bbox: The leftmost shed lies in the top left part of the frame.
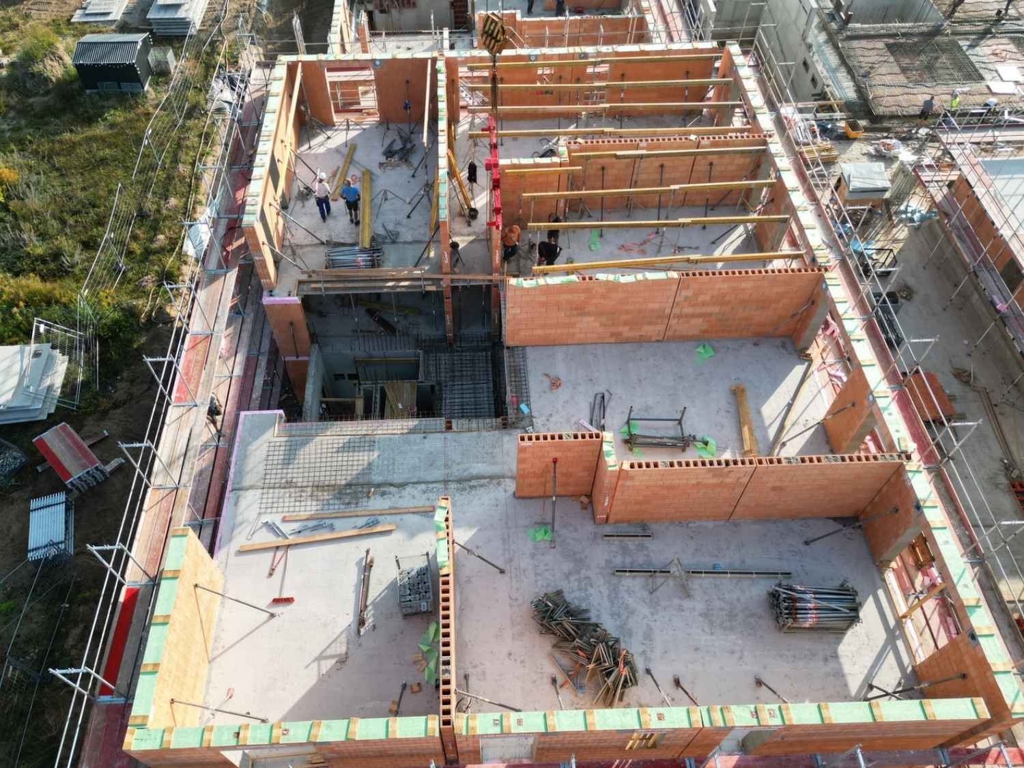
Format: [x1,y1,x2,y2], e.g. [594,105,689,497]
[68,37,154,89]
